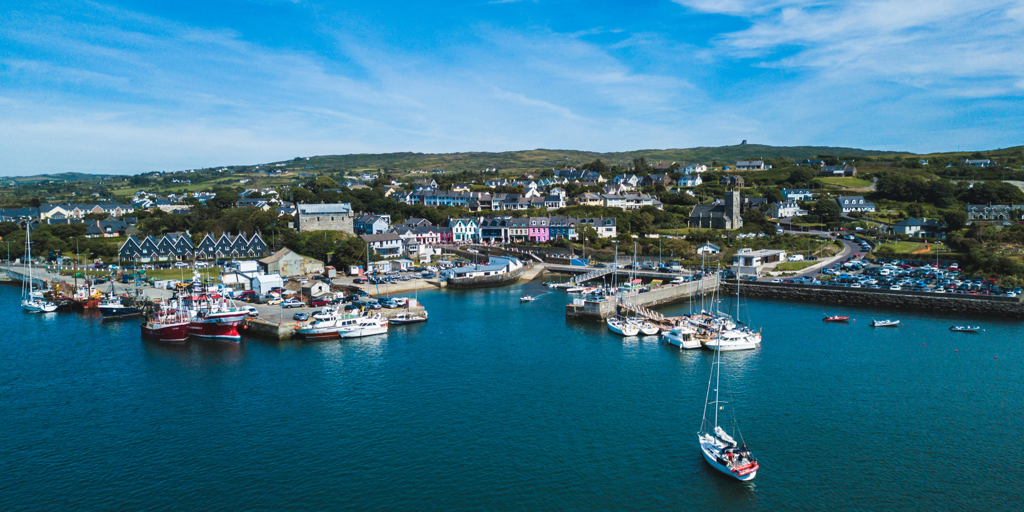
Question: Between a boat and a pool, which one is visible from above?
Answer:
boat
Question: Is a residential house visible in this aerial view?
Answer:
Yes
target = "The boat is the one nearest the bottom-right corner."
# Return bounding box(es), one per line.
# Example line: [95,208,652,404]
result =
[947,319,980,331]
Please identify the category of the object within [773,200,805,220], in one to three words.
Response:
house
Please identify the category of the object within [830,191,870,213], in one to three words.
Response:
house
